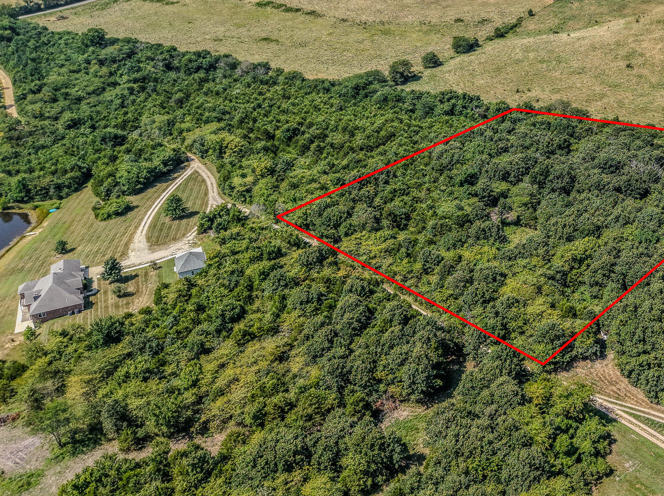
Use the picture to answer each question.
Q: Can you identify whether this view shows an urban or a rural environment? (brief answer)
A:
rural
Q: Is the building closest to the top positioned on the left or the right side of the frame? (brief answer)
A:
left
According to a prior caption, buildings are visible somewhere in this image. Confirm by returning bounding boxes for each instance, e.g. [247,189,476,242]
[18,258,88,325]
[174,250,208,280]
